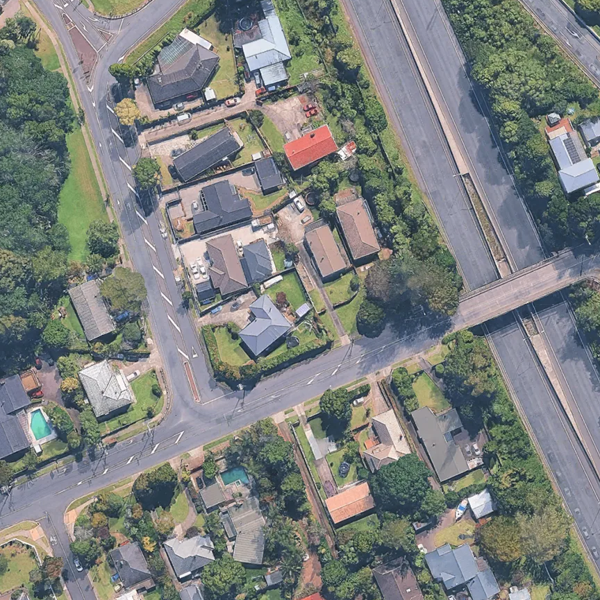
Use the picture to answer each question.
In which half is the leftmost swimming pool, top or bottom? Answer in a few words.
bottom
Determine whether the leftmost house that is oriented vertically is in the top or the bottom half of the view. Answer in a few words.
bottom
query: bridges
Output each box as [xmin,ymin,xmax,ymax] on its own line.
[448,238,600,333]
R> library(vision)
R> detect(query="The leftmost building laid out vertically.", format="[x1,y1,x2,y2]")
[0,369,42,461]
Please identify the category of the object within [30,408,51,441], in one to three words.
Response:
swimming pool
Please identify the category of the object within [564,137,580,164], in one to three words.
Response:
solar panel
